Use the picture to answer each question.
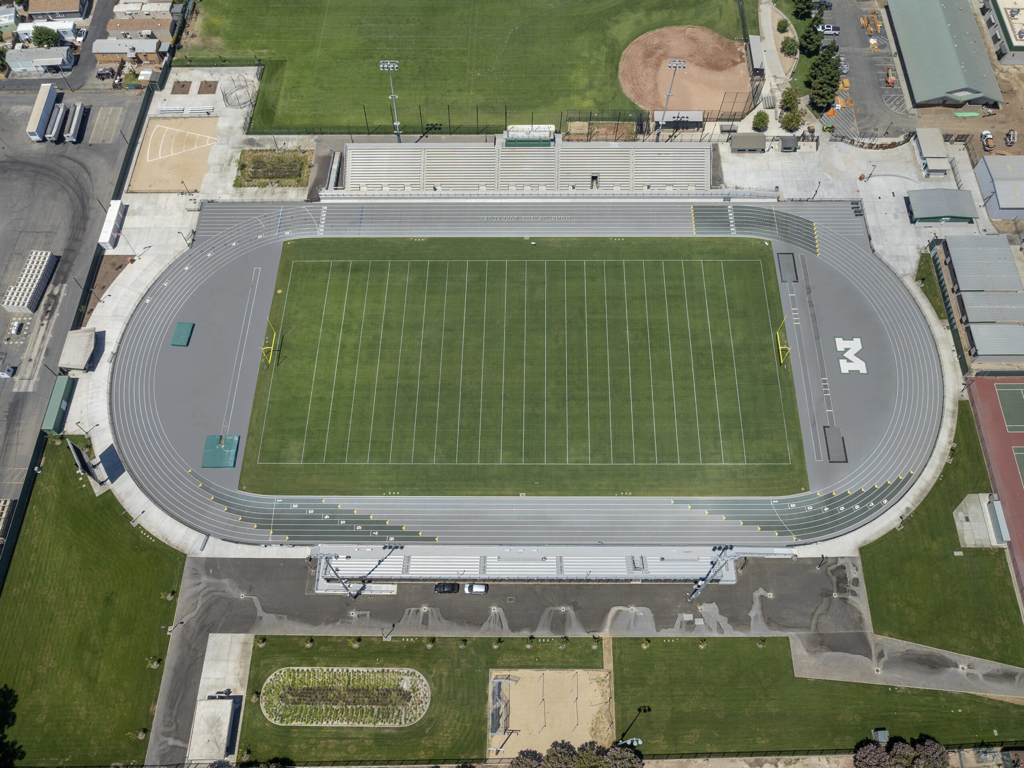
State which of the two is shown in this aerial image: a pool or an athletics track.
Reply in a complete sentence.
Of the two, only an athletics track appears.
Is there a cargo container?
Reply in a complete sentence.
Yes, I can see a cargo container in this picture.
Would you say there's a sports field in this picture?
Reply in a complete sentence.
Yes, a sports field appears in the view.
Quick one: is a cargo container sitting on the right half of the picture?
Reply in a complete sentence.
No, no cargo container appears on the right half of the picture.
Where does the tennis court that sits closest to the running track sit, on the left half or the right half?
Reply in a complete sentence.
It is on the right.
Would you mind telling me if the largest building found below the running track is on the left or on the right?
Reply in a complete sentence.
You can find the largest building found below the running track on the left side of the picture.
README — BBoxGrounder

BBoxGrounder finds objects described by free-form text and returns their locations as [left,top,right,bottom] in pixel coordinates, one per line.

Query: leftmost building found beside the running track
[54,328,99,372]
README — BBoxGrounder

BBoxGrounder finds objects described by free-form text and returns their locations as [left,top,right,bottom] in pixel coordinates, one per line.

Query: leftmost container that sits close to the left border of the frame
[41,375,76,435]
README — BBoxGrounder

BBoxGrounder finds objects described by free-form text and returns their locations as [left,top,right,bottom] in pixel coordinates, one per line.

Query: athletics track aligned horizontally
[109,200,944,546]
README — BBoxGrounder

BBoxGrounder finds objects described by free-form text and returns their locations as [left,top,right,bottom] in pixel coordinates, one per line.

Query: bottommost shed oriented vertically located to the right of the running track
[988,501,1011,544]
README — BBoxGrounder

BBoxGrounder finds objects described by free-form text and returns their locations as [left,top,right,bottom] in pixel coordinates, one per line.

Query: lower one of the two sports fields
[237,237,810,496]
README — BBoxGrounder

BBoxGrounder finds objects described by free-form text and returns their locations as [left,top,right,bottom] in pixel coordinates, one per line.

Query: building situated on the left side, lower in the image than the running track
[188,694,235,760]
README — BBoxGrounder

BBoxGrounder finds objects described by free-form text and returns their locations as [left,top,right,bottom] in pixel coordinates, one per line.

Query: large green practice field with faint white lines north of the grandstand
[170,0,760,136]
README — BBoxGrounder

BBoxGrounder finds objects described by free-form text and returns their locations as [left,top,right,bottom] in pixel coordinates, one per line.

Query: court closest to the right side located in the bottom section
[969,376,1024,607]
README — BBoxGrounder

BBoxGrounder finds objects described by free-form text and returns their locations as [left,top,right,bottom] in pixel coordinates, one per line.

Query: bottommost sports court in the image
[487,669,616,764]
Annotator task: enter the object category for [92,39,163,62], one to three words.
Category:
house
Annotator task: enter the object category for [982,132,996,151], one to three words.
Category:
vehicle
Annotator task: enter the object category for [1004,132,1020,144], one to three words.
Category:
vehicle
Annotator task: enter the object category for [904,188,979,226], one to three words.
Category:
building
